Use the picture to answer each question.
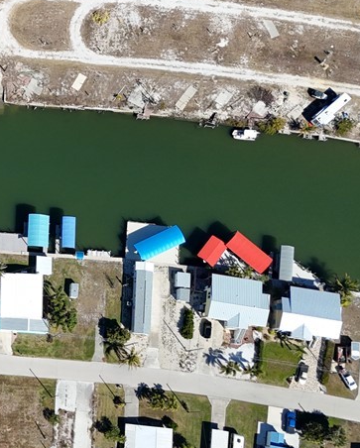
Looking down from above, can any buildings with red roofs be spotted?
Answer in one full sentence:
Yes, there is a building with a red roof in the image.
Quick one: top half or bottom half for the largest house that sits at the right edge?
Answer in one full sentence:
The bottom half of the photo is where the largest house that sits at the right edge is.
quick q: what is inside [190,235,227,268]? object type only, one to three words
building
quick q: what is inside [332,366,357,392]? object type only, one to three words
truck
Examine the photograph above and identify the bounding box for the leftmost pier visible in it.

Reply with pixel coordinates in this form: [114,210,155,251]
[0,231,28,252]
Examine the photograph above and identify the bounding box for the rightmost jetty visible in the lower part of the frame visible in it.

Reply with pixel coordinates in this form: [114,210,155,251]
[291,259,326,290]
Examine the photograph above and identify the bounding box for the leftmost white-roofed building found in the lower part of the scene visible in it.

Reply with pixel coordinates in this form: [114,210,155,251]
[0,257,52,333]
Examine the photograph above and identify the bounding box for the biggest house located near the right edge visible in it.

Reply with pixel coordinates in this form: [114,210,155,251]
[274,286,346,340]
